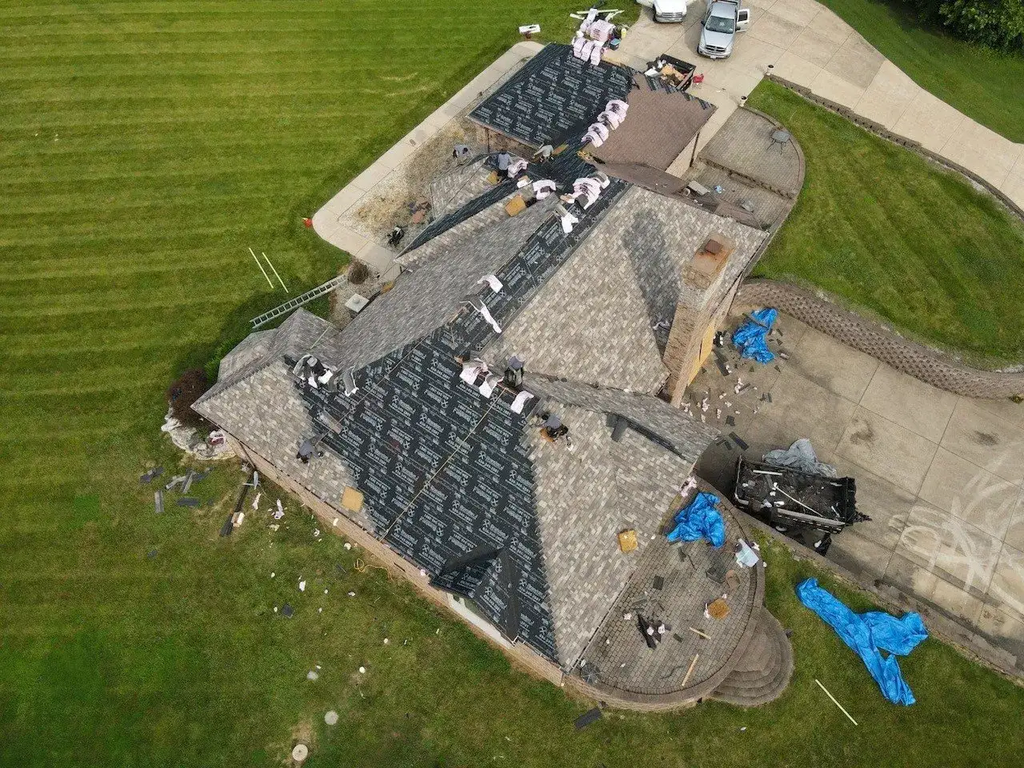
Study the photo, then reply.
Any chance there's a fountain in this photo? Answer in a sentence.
No, I can't see a single fountain in this photo.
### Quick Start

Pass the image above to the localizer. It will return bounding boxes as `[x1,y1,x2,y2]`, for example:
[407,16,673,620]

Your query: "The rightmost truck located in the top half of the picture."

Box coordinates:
[701,0,758,58]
